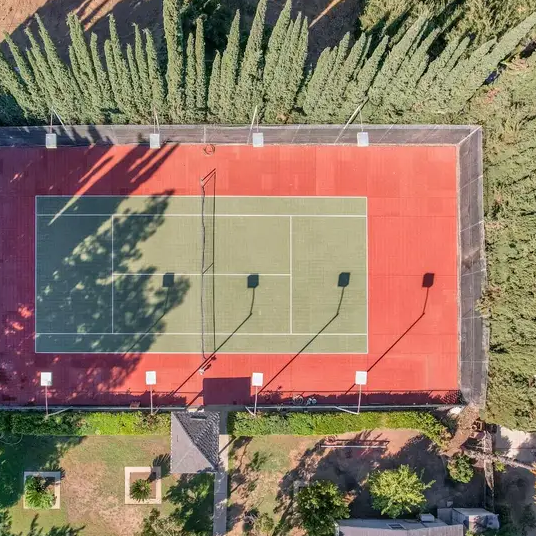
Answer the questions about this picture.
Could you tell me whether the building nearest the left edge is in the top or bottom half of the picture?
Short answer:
bottom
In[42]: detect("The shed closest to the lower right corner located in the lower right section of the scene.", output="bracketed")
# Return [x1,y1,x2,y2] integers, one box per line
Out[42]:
[443,502,498,528]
